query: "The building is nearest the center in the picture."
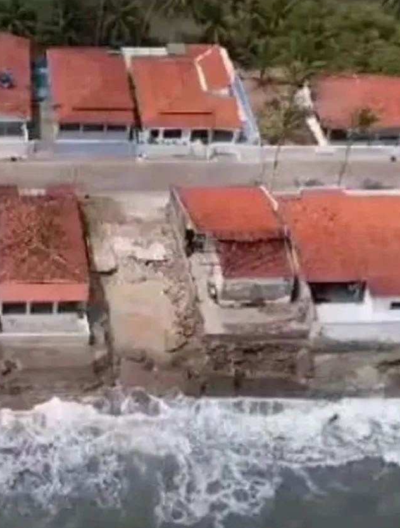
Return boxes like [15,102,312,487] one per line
[183,186,307,333]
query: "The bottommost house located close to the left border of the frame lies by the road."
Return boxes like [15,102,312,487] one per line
[0,184,100,339]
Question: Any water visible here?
Yes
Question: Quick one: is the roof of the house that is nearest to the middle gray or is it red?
red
